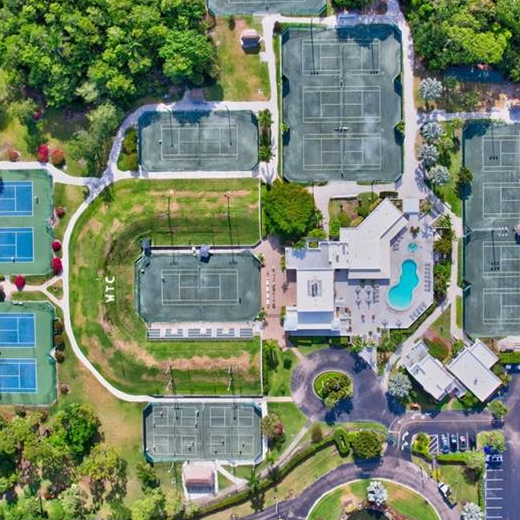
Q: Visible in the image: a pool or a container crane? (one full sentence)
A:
Visible in the photo is a pool.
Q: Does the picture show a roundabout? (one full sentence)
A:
Yes, the picture does show a roundabout.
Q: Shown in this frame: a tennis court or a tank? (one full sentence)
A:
The image shows a tennis court.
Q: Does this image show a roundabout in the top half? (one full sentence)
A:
No, looking in the top half, there is no roundabout.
